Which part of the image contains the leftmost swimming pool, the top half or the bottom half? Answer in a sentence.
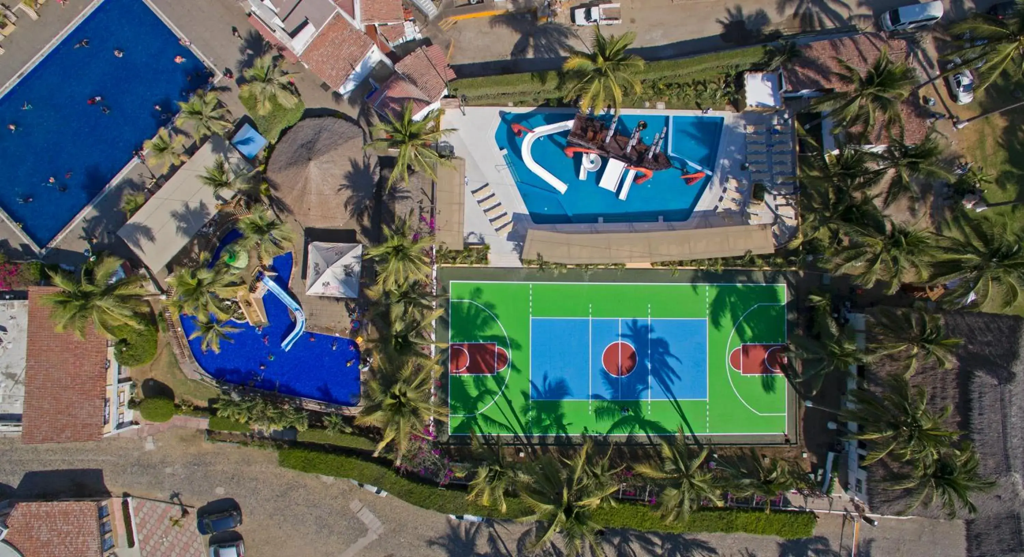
Seen from above, the leftmost swimming pool lies in the top half of the view.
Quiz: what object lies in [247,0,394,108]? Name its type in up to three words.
house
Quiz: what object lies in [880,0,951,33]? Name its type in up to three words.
van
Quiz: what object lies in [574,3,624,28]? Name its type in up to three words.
truck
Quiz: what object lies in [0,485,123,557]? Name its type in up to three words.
house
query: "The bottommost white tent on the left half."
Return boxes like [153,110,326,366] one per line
[306,243,363,297]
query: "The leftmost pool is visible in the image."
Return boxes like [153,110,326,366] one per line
[0,0,222,258]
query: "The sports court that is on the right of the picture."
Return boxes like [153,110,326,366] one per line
[435,267,797,445]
